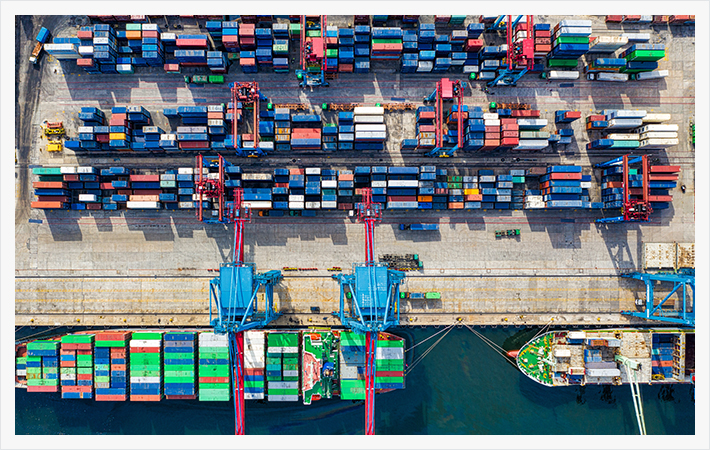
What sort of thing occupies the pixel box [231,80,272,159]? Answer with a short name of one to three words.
container crane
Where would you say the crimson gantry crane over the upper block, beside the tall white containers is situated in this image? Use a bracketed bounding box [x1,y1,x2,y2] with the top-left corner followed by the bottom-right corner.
[487,4,535,89]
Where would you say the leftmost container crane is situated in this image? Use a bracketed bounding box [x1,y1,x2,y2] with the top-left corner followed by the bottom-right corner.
[196,155,241,227]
